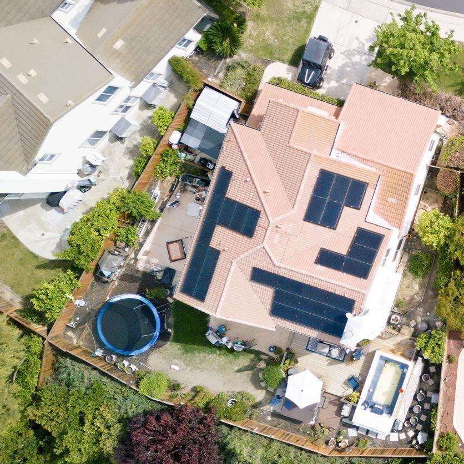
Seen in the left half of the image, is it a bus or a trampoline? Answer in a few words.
trampoline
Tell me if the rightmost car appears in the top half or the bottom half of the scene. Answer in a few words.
top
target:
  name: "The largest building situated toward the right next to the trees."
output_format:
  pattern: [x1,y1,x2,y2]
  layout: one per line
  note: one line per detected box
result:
[170,80,443,349]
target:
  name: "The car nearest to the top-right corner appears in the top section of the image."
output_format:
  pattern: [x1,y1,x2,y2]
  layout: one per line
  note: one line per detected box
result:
[291,32,330,89]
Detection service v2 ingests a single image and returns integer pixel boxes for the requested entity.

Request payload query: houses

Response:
[0,0,214,194]
[170,80,443,349]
